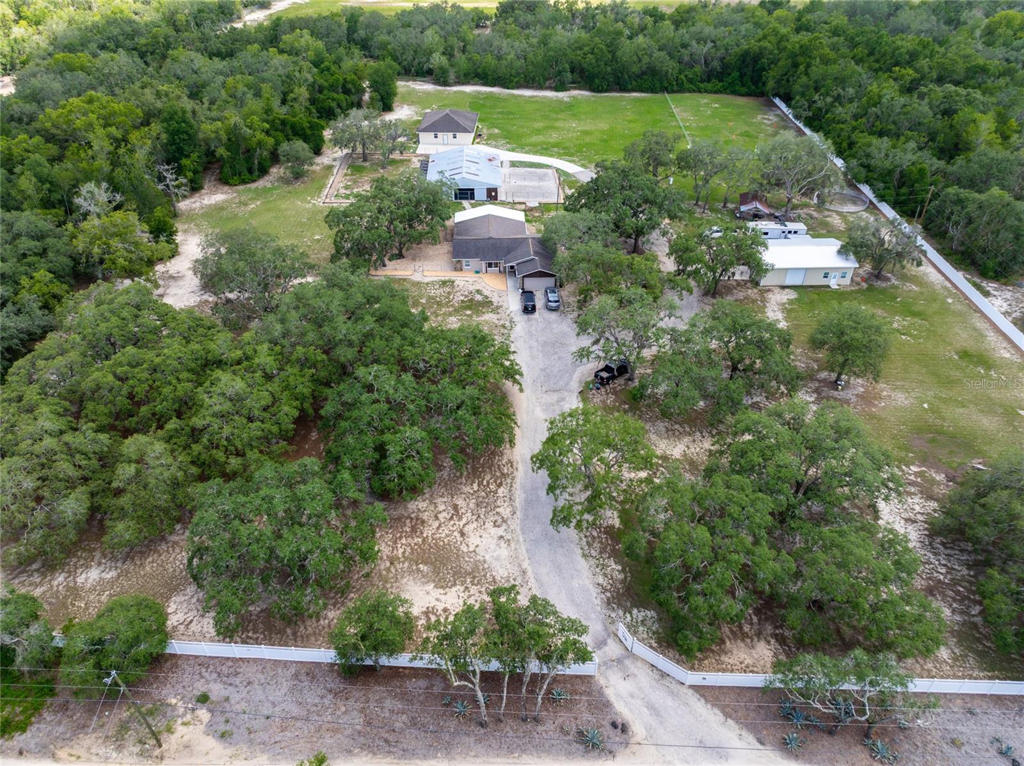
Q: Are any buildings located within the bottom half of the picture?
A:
No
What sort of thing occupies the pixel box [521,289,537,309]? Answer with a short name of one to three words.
car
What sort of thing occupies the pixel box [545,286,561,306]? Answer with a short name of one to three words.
car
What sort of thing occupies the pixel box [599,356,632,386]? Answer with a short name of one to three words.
truck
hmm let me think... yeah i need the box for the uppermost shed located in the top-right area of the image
[729,189,768,223]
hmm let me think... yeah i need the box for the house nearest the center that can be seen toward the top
[451,203,569,289]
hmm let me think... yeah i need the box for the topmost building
[417,110,477,146]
